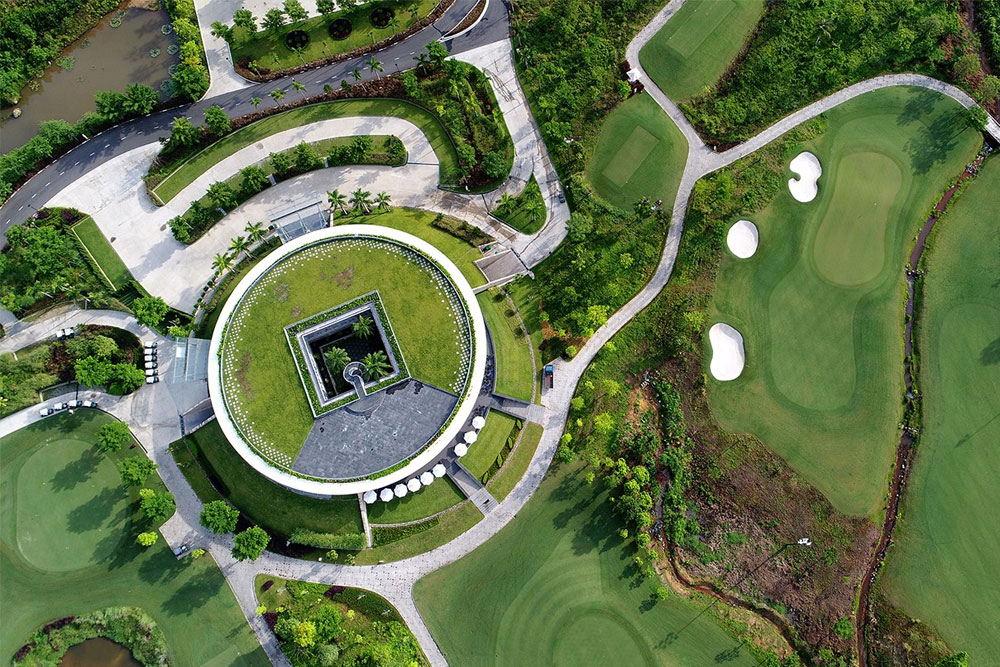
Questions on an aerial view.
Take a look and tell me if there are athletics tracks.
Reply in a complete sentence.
No, I find no athletics track anywhere in the image.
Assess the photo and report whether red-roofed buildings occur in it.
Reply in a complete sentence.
No, there is no red-roofed building in the image.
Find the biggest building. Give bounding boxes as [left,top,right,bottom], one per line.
[210,224,486,495]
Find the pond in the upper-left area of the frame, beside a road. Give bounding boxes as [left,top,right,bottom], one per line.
[0,11,180,169]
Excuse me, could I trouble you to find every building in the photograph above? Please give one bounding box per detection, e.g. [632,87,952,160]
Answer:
[210,224,486,495]
[627,68,644,89]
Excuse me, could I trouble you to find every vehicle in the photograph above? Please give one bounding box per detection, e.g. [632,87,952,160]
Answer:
[146,377,161,384]
[145,362,160,369]
[65,327,77,340]
[40,408,58,417]
[145,355,160,362]
[83,400,101,409]
[144,349,160,355]
[545,362,556,389]
[146,369,161,377]
[145,342,160,349]
[57,328,68,342]
[54,402,70,410]
[67,400,84,408]
[558,189,565,202]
